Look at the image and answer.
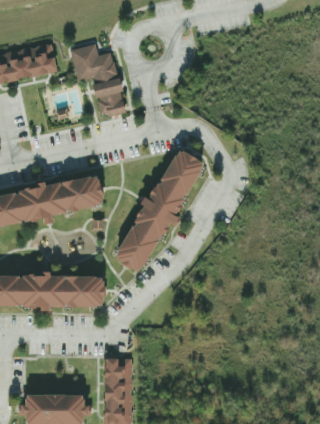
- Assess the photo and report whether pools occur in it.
Yes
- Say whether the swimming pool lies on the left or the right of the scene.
left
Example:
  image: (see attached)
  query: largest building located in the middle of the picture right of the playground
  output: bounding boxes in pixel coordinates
[115,152,206,272]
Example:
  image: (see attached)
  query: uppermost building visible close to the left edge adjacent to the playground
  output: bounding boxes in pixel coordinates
[0,174,107,228]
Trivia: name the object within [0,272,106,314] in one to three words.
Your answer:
building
